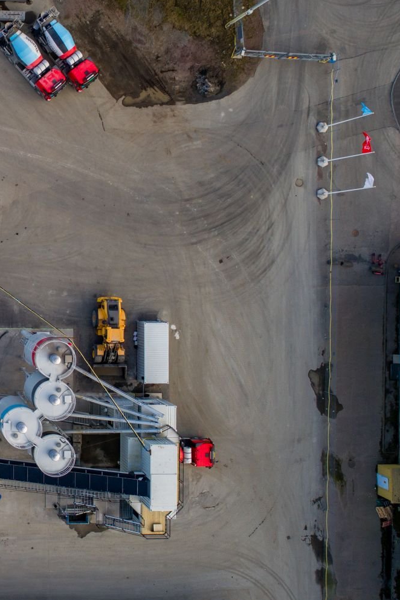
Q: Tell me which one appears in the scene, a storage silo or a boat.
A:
storage silo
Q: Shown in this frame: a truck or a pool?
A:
truck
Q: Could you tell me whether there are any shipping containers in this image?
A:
Yes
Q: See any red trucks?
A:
Yes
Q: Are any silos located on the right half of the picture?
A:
No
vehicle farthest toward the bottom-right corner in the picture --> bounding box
[184,436,218,467]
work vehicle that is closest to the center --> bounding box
[87,296,129,378]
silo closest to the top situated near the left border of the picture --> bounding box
[16,328,78,380]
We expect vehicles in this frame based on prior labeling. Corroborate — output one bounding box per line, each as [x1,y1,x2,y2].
[87,296,129,378]
[29,8,107,98]
[0,20,73,107]
[184,436,218,467]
